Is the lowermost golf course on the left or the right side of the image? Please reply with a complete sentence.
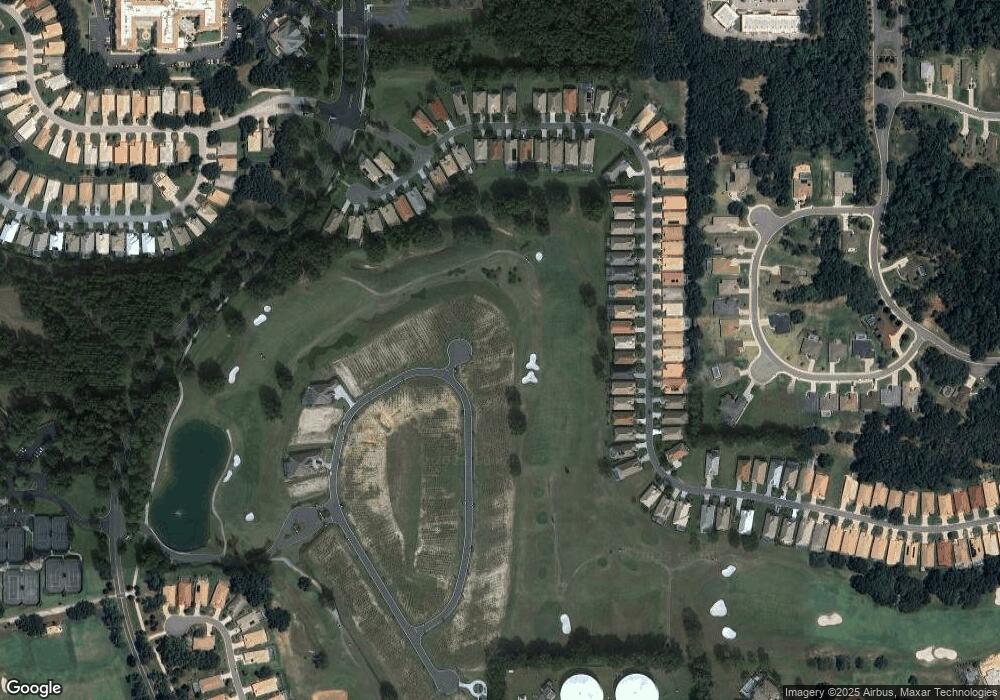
You can find the lowermost golf course on the left side of the picture.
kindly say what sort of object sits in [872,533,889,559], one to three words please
house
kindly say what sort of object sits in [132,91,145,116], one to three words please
house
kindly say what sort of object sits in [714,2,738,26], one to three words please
building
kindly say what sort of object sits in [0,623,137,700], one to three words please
golf course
